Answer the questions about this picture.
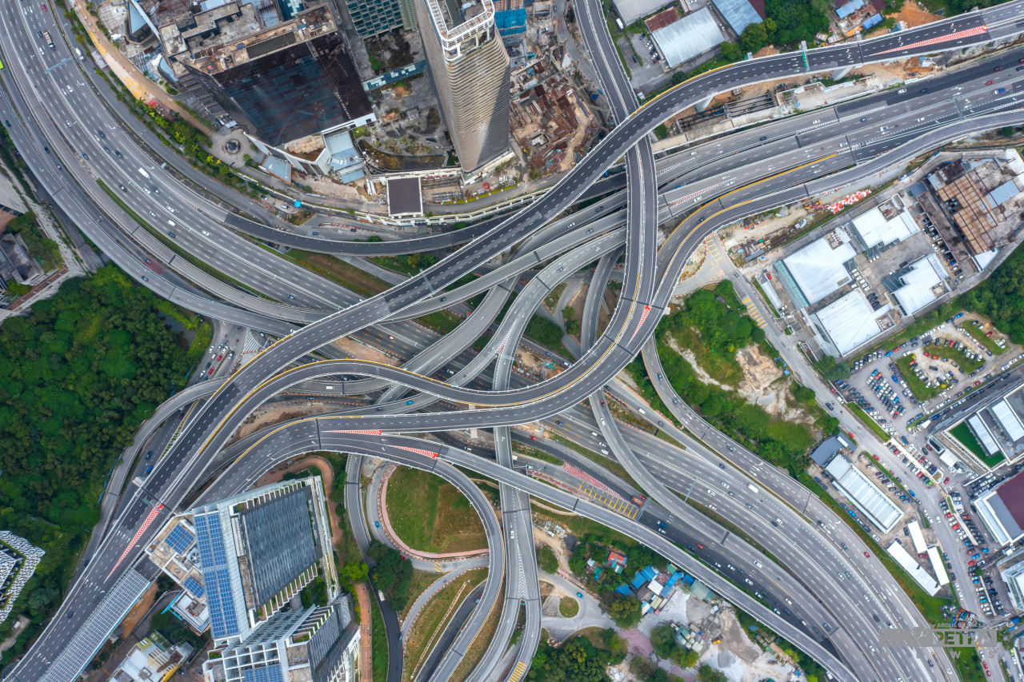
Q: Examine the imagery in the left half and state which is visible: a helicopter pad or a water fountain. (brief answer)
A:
water fountain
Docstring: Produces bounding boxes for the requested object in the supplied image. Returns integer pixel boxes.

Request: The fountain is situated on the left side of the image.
[213,128,255,166]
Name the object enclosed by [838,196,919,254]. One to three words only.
building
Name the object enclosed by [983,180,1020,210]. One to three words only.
shed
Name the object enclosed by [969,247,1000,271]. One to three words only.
shed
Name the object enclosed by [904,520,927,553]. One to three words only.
building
